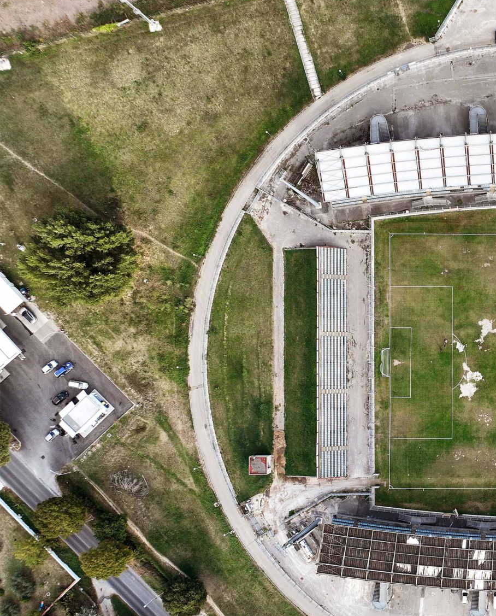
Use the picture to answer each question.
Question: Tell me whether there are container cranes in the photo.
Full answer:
No, no container crane is visible in the view.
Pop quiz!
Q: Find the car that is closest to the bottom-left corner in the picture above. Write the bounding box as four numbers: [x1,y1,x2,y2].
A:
[44,429,61,441]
